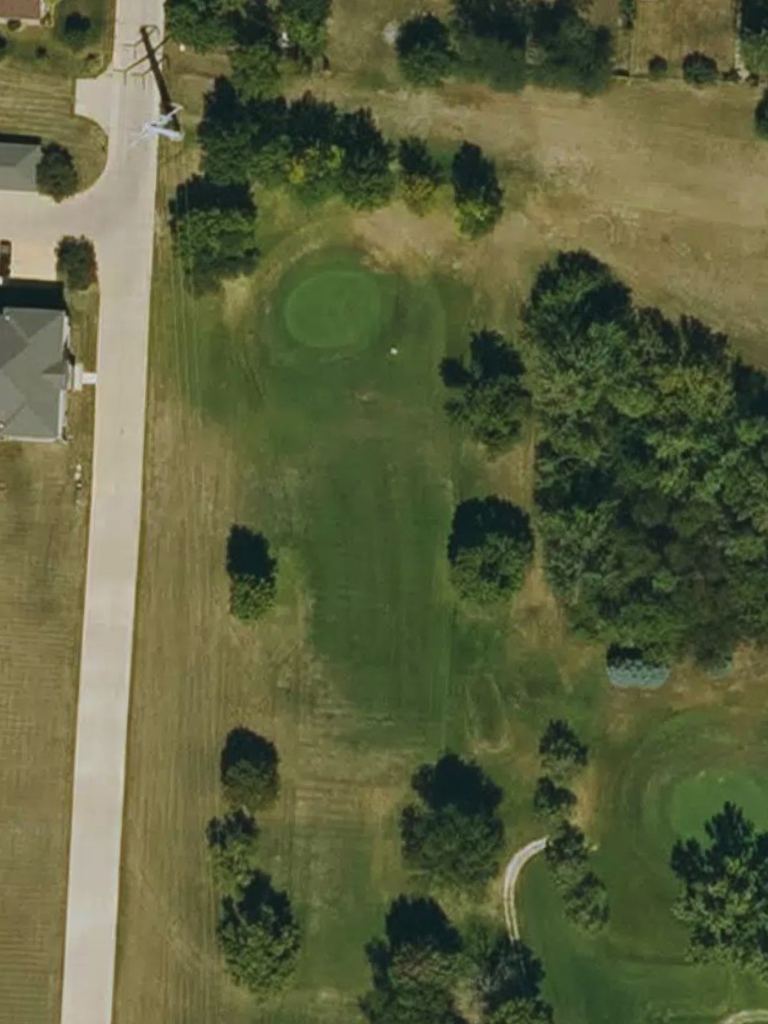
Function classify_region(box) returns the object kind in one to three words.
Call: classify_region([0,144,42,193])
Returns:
building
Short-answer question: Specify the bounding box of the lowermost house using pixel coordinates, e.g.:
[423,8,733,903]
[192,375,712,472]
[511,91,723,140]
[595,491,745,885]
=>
[0,308,85,439]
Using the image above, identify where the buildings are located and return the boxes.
[0,144,42,193]
[0,308,85,439]
[0,0,42,21]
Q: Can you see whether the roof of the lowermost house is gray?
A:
Yes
